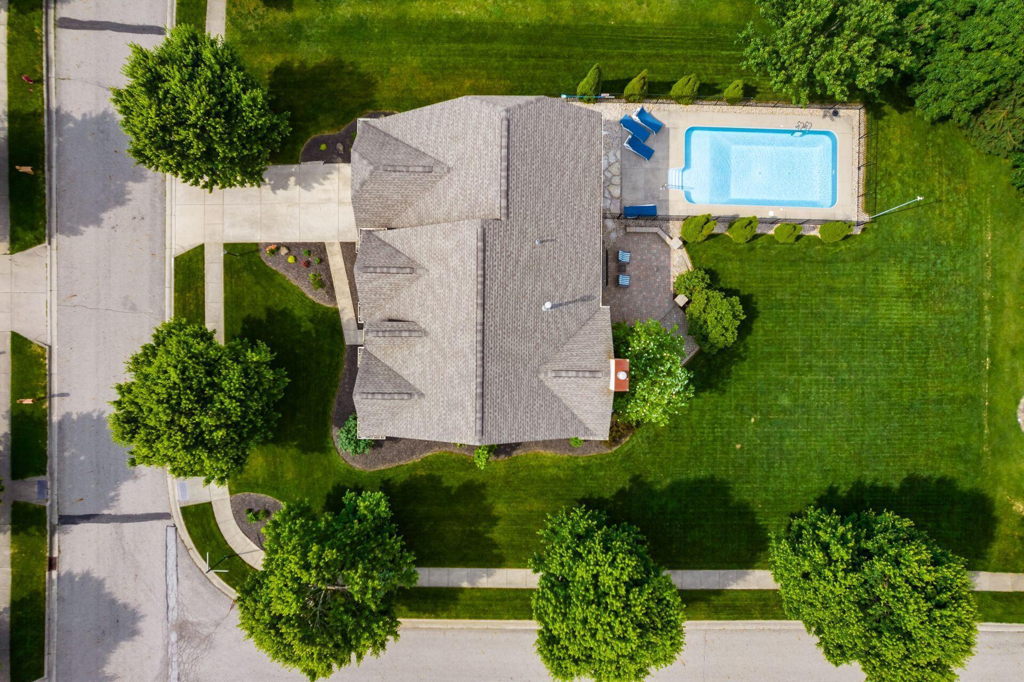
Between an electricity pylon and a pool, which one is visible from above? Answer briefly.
pool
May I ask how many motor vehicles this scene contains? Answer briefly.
none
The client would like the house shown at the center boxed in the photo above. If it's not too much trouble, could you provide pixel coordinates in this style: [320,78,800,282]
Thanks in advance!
[350,96,629,446]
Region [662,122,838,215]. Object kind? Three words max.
swimming pool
